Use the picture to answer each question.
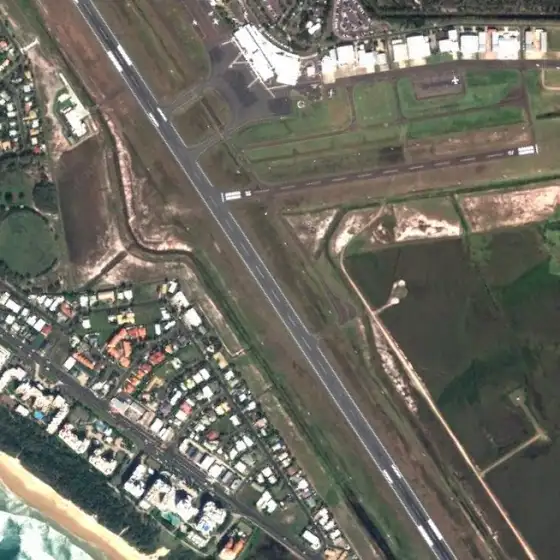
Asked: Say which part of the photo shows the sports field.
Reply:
left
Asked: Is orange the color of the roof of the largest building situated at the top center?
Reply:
No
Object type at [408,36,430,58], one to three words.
hangar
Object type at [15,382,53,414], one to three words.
building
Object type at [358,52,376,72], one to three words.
hangar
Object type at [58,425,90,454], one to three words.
building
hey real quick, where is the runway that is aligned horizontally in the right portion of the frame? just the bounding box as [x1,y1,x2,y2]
[221,145,539,201]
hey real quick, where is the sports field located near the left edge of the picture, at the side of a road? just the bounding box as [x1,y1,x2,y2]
[0,208,58,275]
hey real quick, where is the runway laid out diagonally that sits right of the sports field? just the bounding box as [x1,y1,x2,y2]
[73,0,457,560]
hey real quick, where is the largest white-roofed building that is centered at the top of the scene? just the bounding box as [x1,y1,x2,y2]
[234,25,299,85]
